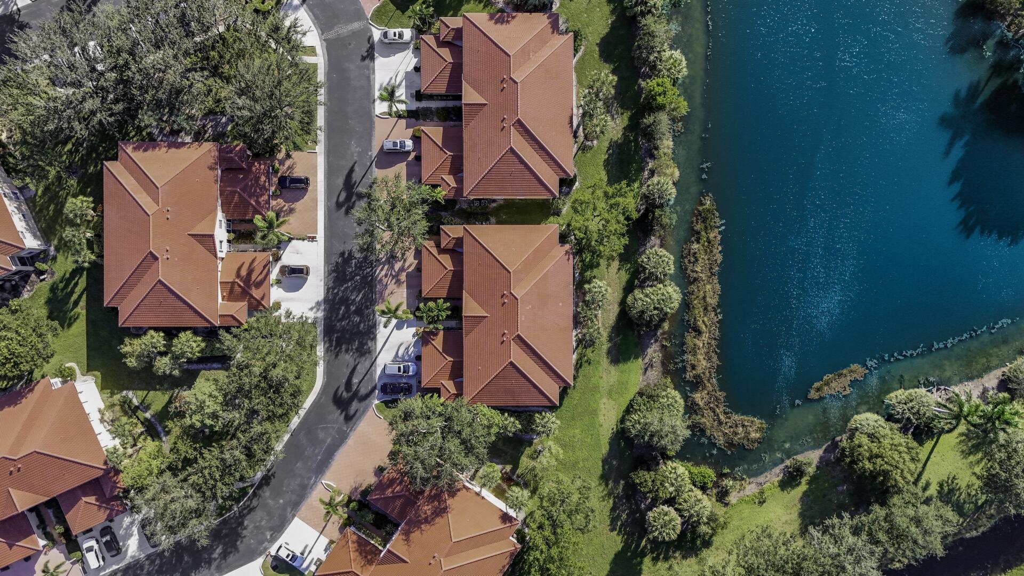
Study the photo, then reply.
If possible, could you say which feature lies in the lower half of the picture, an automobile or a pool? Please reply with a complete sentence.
There is an automobile in the lower half of the picture.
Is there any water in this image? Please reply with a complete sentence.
Yes, some water is visible.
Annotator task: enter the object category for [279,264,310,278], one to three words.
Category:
car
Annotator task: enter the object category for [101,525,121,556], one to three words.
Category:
car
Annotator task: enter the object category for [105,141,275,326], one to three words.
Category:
house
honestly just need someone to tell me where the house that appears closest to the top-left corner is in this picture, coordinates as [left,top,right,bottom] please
[0,133,69,288]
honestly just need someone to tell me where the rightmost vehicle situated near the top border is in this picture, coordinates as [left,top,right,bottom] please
[380,28,412,44]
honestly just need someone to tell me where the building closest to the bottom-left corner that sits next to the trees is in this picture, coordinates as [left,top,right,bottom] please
[0,375,129,568]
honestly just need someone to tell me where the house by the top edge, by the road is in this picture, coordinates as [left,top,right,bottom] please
[420,13,576,200]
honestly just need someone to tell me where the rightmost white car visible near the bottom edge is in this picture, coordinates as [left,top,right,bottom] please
[275,543,305,567]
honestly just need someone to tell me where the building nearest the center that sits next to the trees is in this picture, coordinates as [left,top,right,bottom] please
[420,222,576,408]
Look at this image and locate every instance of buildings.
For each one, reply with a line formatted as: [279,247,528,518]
[420,222,576,408]
[0,133,69,288]
[420,13,576,200]
[315,454,520,576]
[0,375,129,568]
[105,141,275,326]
